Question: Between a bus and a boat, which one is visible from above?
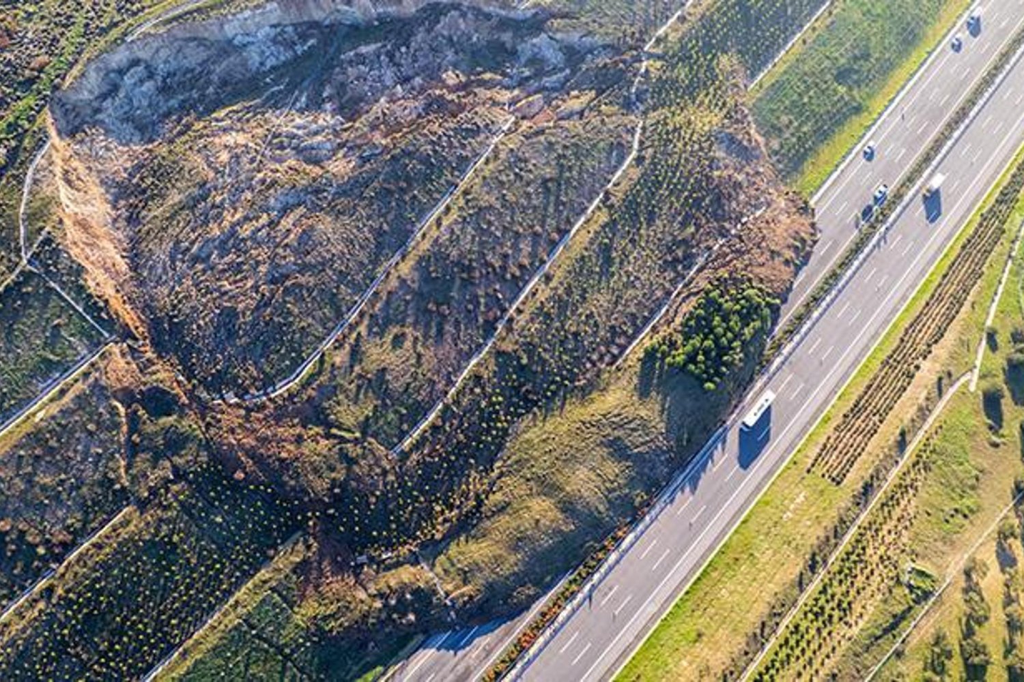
bus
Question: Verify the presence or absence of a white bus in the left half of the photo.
No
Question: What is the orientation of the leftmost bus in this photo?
diagonally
